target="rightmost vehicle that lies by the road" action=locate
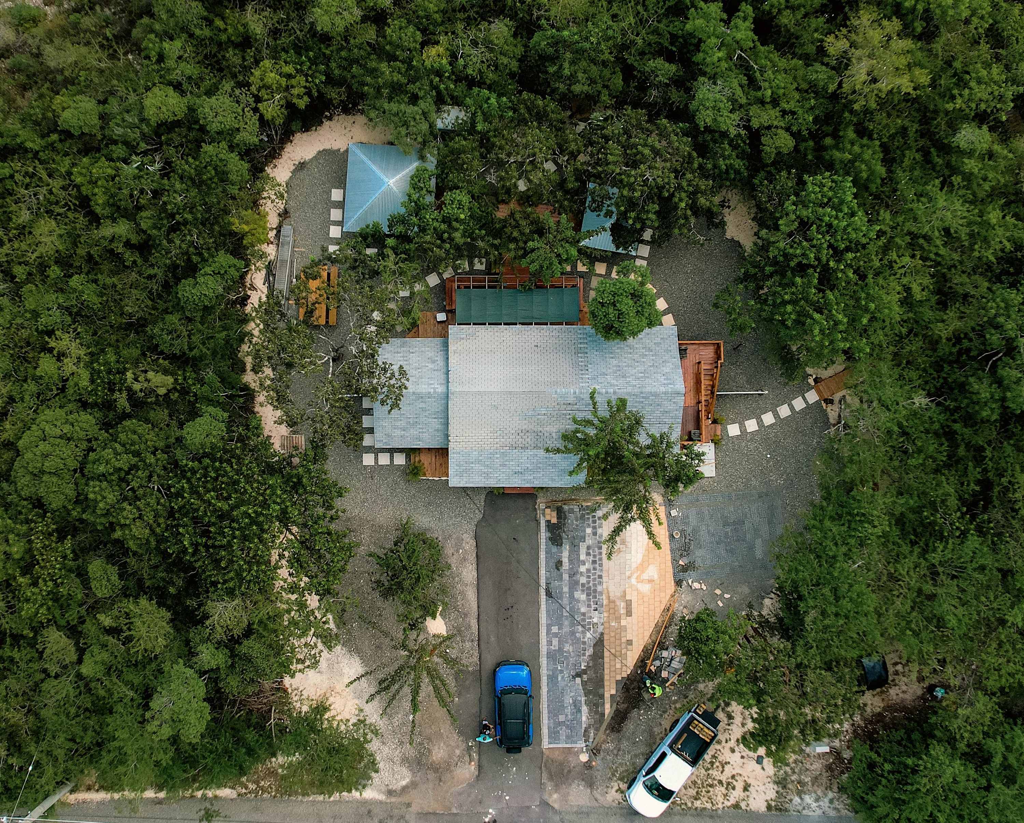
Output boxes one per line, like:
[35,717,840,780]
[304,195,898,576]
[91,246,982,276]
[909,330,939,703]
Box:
[631,704,720,817]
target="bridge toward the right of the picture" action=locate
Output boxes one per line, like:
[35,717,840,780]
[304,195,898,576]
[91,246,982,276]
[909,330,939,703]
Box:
[801,360,874,407]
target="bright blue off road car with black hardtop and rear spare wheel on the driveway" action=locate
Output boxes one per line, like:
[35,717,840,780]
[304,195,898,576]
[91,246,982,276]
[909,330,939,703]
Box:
[490,658,536,756]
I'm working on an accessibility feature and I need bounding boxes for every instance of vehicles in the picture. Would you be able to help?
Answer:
[490,658,536,756]
[631,704,720,817]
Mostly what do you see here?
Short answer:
trees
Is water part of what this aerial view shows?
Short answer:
No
